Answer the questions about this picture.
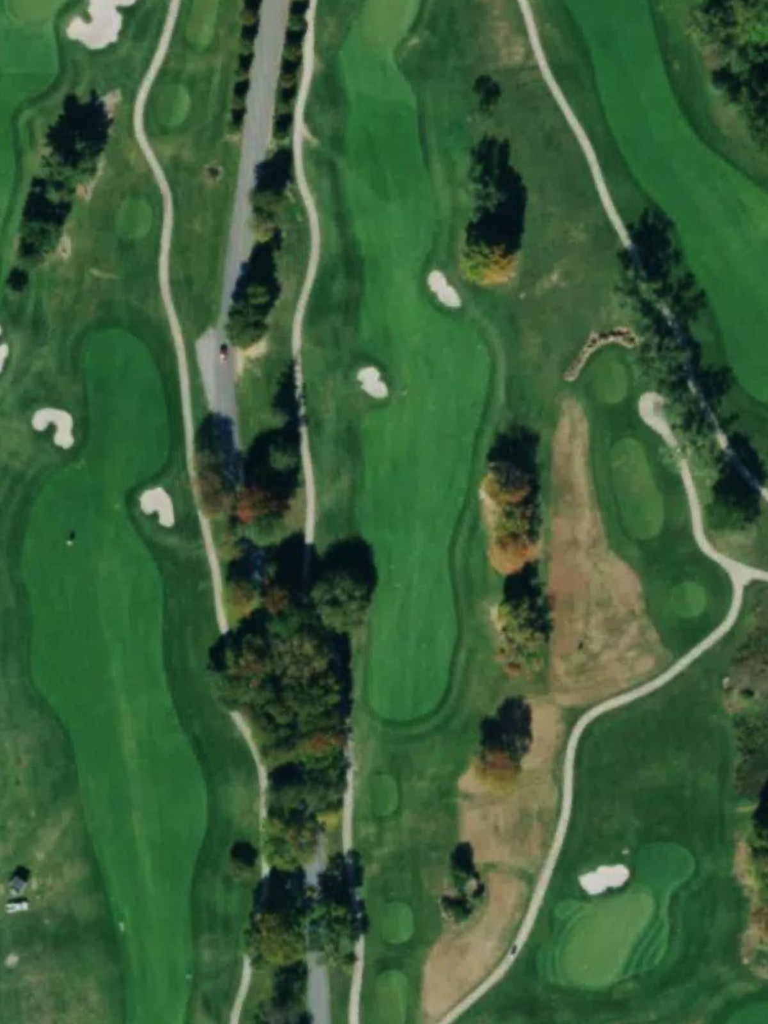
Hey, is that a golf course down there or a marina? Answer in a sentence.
This image shows a golf course.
